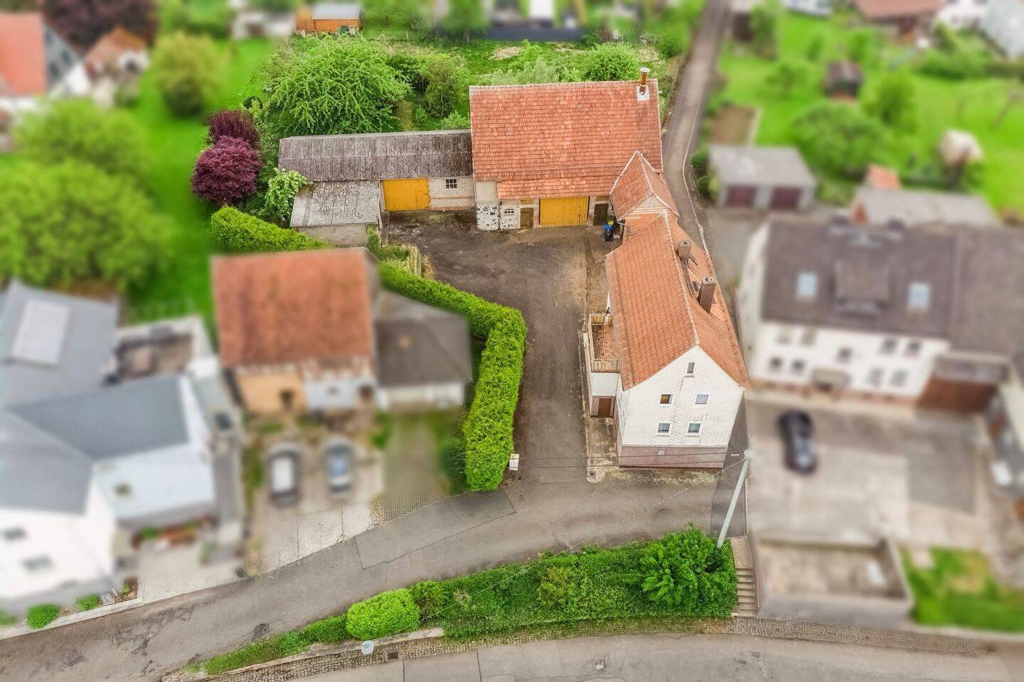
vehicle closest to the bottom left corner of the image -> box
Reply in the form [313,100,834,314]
[266,447,302,513]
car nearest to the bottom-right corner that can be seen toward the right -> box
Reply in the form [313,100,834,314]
[778,413,819,475]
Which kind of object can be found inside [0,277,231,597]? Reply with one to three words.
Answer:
house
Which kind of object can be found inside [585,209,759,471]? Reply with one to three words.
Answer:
house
